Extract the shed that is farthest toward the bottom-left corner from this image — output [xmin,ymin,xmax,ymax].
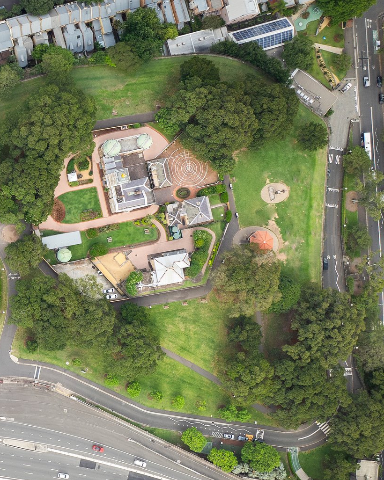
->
[42,231,81,250]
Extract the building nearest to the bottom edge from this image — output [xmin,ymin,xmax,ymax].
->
[150,249,191,287]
